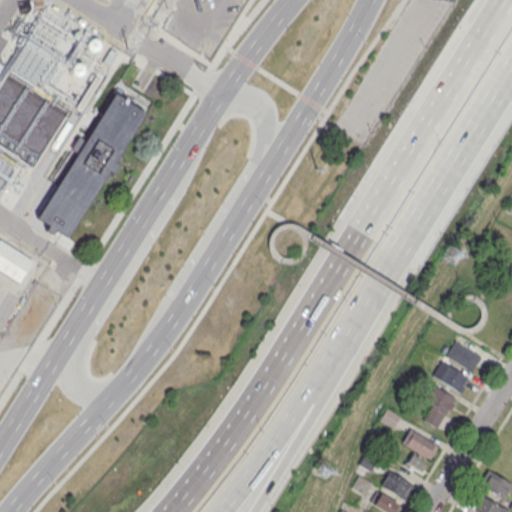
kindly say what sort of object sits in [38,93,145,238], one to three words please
building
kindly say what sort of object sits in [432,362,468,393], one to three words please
house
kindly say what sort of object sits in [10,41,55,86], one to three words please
building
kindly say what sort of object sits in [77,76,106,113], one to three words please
shed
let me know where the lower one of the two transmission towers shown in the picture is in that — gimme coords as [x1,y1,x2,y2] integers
[314,460,337,481]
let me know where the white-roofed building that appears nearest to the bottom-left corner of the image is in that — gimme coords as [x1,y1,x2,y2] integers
[0,242,38,290]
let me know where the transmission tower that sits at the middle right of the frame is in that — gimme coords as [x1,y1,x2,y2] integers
[446,246,470,266]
